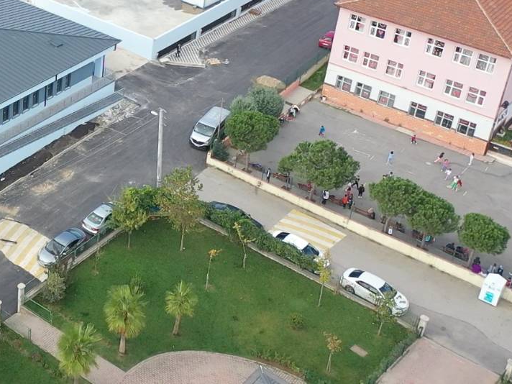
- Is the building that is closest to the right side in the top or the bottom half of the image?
top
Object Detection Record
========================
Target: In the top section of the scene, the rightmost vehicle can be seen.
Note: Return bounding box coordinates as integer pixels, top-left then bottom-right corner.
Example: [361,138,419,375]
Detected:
[316,30,336,53]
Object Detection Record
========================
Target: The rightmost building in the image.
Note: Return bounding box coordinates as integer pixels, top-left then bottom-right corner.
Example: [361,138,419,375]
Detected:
[322,0,512,157]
